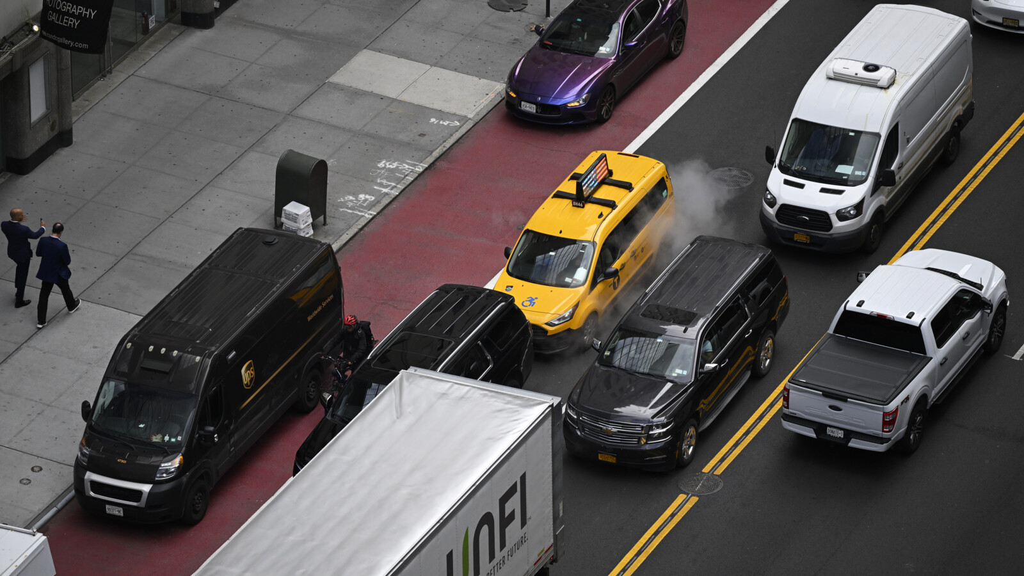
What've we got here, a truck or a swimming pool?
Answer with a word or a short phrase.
truck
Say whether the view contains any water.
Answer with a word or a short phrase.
No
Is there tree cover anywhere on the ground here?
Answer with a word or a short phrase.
No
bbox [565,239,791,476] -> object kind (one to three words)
car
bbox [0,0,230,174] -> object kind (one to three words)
building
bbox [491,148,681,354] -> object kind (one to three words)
vehicle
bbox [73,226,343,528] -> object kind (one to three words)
van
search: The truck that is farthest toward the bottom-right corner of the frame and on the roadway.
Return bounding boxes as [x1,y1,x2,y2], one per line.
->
[779,249,1015,454]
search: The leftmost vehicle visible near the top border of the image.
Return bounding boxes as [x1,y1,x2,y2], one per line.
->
[501,0,689,131]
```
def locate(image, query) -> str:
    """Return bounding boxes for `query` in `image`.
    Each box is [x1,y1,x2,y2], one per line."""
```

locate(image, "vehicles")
[73,226,343,528]
[565,239,791,476]
[779,249,1015,454]
[491,148,681,354]
[299,284,536,466]
[976,0,1024,40]
[0,518,59,576]
[756,14,973,260]
[501,0,689,131]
